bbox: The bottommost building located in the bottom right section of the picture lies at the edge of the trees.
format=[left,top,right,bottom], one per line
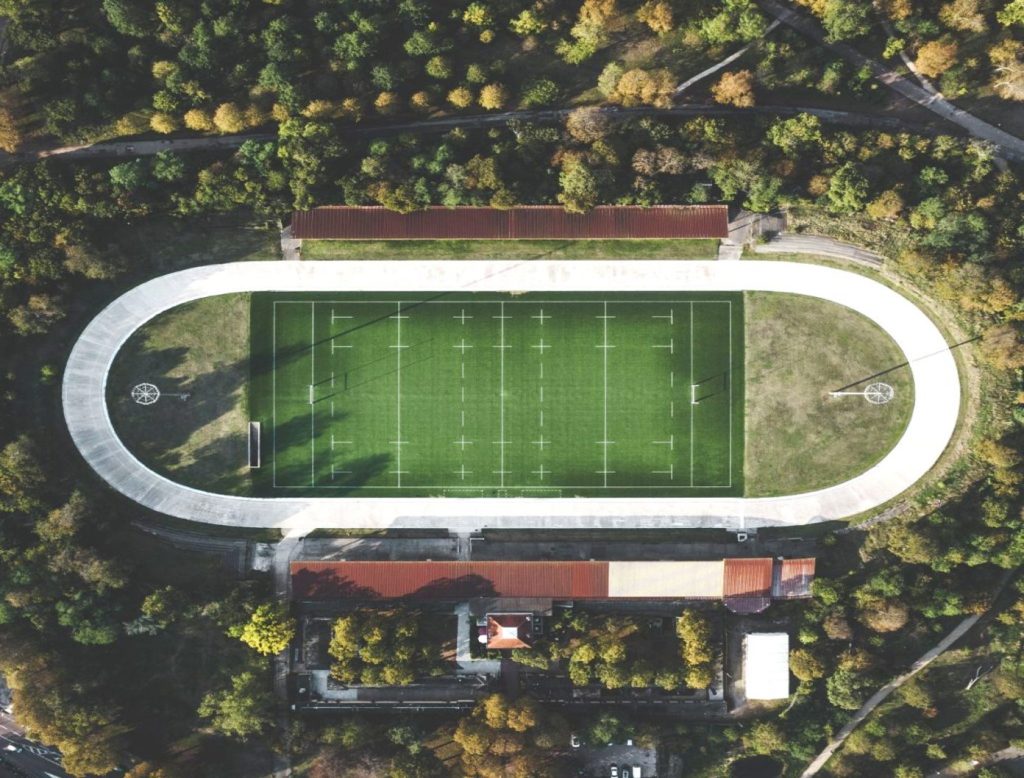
[742,629,789,698]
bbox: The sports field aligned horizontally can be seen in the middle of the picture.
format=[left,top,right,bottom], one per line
[249,291,744,498]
